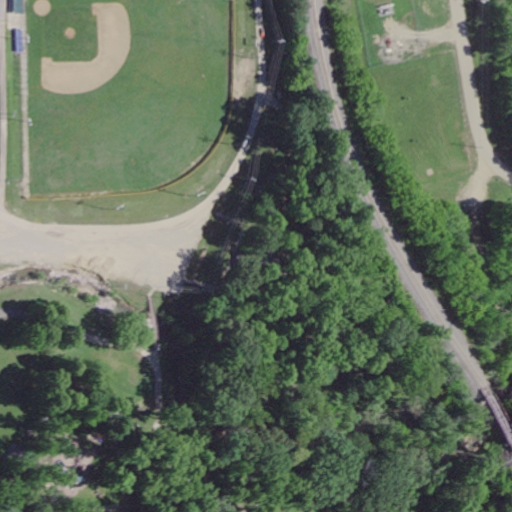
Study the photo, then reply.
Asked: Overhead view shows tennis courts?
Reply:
No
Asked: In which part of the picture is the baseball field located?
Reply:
top left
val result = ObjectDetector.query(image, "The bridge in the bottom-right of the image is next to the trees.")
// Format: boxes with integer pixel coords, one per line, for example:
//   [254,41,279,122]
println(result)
[476,384,512,446]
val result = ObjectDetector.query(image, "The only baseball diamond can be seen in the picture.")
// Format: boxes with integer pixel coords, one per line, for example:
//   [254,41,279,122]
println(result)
[20,0,233,199]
